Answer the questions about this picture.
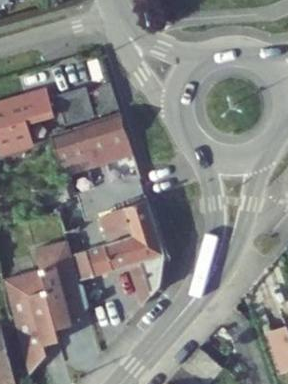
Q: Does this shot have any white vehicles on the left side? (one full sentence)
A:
Yes, looking on the left side, one can make out a white vehicle.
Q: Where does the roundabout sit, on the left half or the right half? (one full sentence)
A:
It is on the right.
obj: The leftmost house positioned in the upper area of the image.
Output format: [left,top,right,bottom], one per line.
[0,87,53,157]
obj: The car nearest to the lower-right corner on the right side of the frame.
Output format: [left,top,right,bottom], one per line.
[174,342,196,363]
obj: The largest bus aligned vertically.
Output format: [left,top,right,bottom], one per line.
[190,232,218,298]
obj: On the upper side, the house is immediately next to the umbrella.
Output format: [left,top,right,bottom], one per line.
[54,112,133,176]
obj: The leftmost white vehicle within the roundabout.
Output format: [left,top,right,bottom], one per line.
[180,83,196,106]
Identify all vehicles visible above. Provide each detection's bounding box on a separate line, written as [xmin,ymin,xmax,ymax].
[87,58,103,83]
[190,232,218,298]
[94,305,108,326]
[180,83,196,106]
[147,168,171,180]
[52,66,66,90]
[22,72,46,86]
[104,301,120,325]
[151,180,173,192]
[174,342,196,363]
[196,146,210,168]
[149,376,164,384]
[121,270,134,294]
[257,48,278,59]
[74,62,87,84]
[64,64,78,85]
[212,51,236,63]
